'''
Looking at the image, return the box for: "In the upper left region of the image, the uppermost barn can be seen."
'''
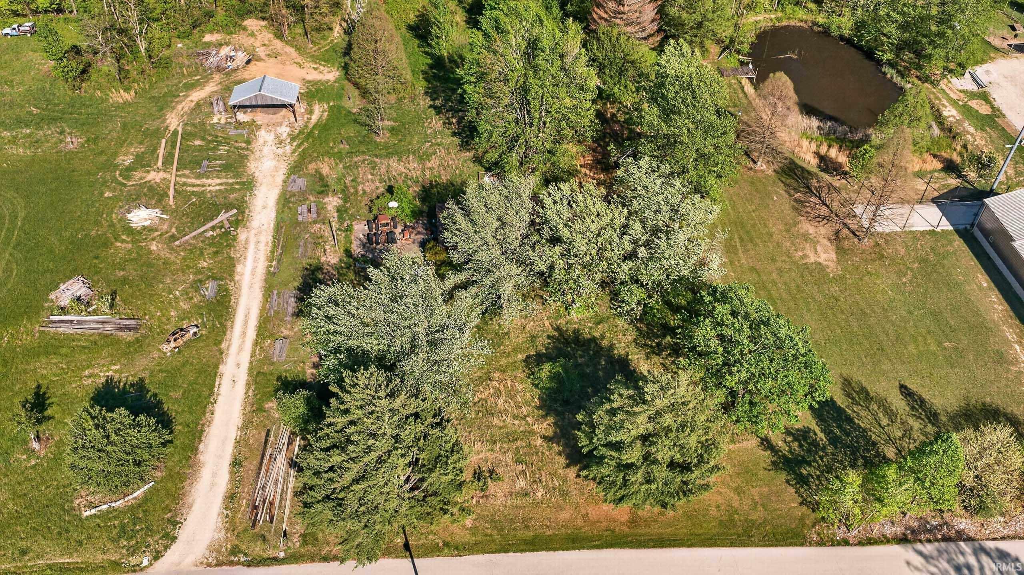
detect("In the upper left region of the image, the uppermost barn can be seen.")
[227,75,304,123]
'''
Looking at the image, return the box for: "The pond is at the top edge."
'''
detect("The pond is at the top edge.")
[747,26,904,132]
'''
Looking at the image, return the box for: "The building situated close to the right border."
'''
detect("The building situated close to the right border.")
[972,191,1024,300]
